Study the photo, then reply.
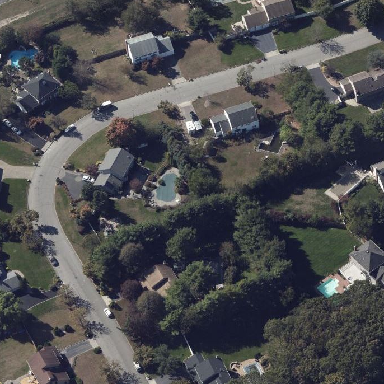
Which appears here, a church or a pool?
pool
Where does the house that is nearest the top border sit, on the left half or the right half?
right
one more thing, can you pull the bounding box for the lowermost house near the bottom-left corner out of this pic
[26,353,70,384]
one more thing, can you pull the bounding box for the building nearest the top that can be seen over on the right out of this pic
[240,0,295,37]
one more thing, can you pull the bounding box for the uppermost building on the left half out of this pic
[125,34,174,66]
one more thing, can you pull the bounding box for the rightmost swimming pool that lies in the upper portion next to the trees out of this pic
[260,128,282,154]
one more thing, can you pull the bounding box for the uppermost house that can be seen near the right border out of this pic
[338,67,384,102]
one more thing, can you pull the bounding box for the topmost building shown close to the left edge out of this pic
[15,70,61,118]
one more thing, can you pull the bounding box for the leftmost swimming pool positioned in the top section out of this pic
[9,49,39,67]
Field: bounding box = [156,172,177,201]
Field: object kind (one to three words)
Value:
swimming pool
